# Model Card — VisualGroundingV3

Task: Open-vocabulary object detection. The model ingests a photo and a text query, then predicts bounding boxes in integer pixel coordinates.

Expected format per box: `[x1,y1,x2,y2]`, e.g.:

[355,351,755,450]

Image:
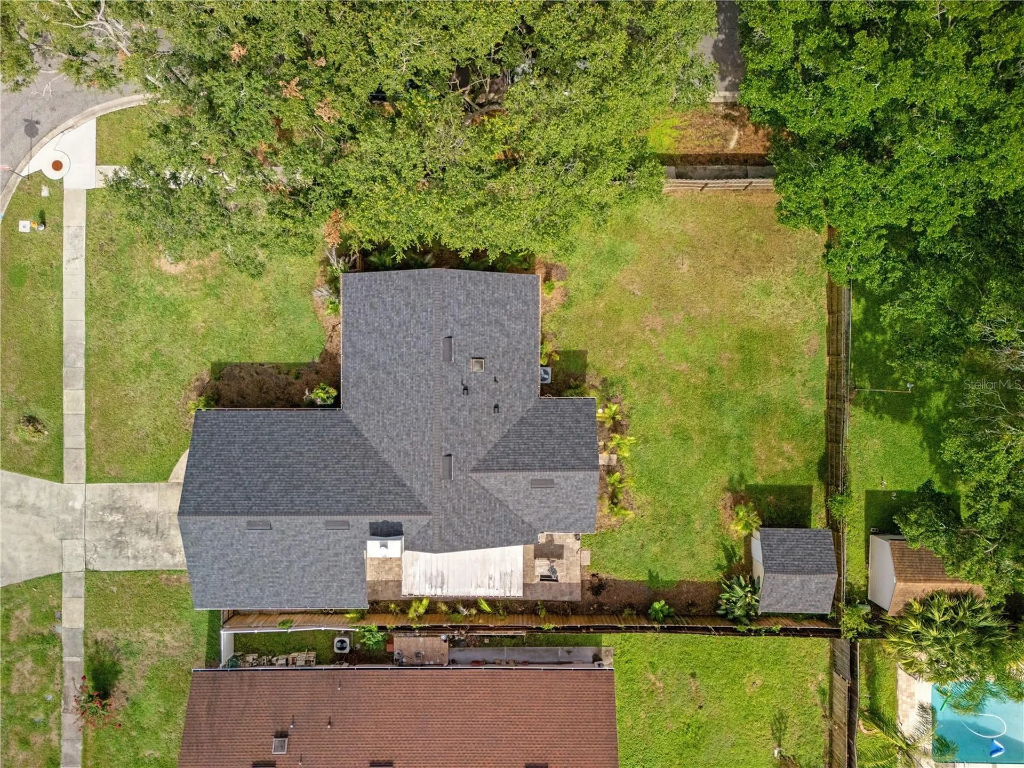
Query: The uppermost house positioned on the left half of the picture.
[176,267,600,610]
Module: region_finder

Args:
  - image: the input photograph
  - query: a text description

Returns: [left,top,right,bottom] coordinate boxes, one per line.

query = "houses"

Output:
[177,665,619,768]
[176,267,600,610]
